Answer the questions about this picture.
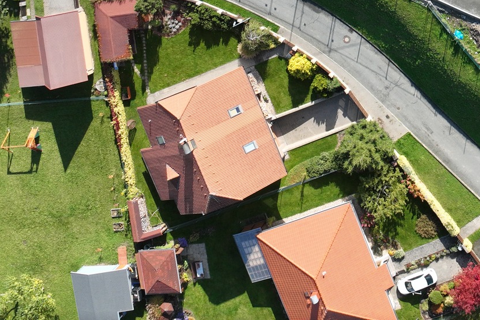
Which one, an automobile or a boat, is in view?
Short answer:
automobile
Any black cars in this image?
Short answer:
No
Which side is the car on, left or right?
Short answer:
right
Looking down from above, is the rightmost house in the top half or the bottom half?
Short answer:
bottom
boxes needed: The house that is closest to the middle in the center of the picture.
[137,66,288,215]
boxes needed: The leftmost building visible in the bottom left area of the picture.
[71,265,142,320]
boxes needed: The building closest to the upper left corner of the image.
[10,10,92,91]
